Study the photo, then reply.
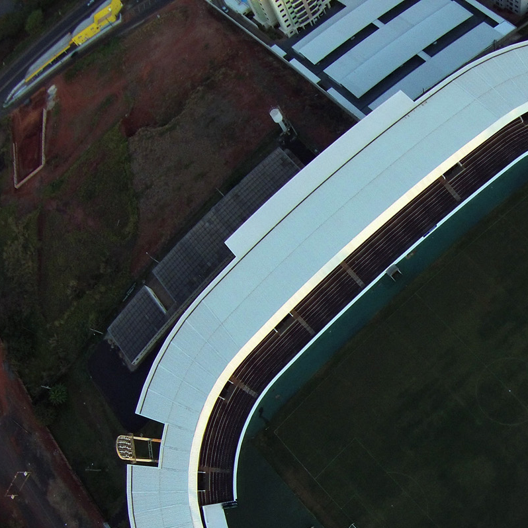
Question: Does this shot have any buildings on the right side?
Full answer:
Yes, there is a building on the right side.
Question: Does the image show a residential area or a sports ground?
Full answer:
It's a sports ground.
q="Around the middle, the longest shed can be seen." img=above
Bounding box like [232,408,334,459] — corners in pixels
[153,147,304,310]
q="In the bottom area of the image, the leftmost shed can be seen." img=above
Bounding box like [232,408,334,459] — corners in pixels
[107,285,183,370]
